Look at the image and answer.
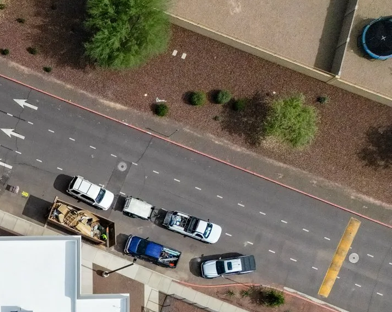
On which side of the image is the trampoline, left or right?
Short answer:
right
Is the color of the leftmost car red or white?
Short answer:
white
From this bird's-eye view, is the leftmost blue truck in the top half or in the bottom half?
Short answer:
bottom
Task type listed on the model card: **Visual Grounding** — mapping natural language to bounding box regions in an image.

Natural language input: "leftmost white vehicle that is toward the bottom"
[63,177,115,211]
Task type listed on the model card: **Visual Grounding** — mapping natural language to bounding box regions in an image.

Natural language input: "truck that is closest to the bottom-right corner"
[199,253,257,279]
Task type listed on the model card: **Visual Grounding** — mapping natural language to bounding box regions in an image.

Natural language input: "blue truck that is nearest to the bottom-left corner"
[123,237,181,270]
